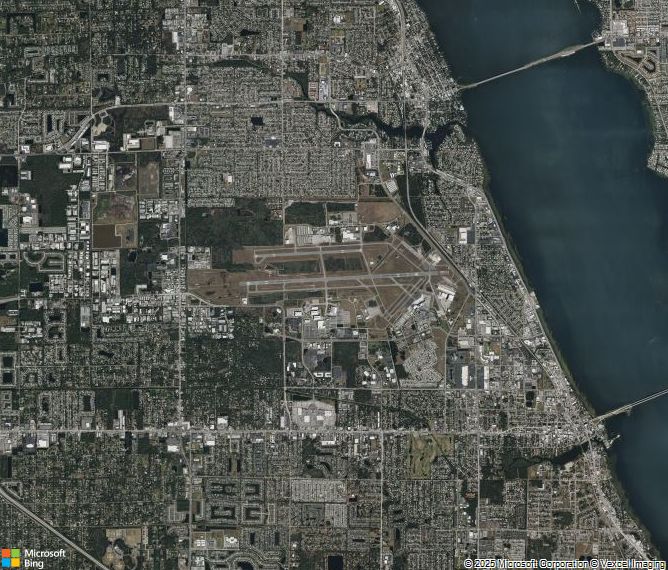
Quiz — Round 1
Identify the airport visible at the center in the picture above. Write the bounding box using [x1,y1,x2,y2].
[187,227,470,331]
